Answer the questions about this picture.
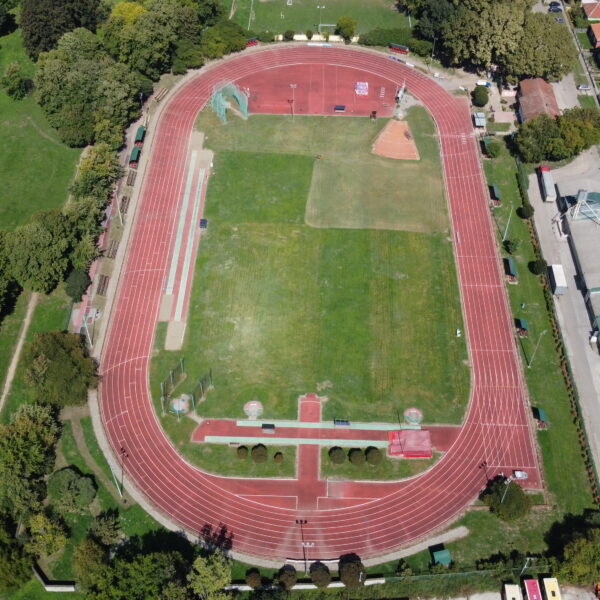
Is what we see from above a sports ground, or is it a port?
sports ground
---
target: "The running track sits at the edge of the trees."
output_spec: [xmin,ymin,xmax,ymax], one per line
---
[97,45,546,565]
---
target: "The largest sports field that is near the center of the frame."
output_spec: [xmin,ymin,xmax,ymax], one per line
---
[148,86,473,482]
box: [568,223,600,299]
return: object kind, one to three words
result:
building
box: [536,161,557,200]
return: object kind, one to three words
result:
truck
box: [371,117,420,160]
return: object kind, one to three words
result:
sports field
